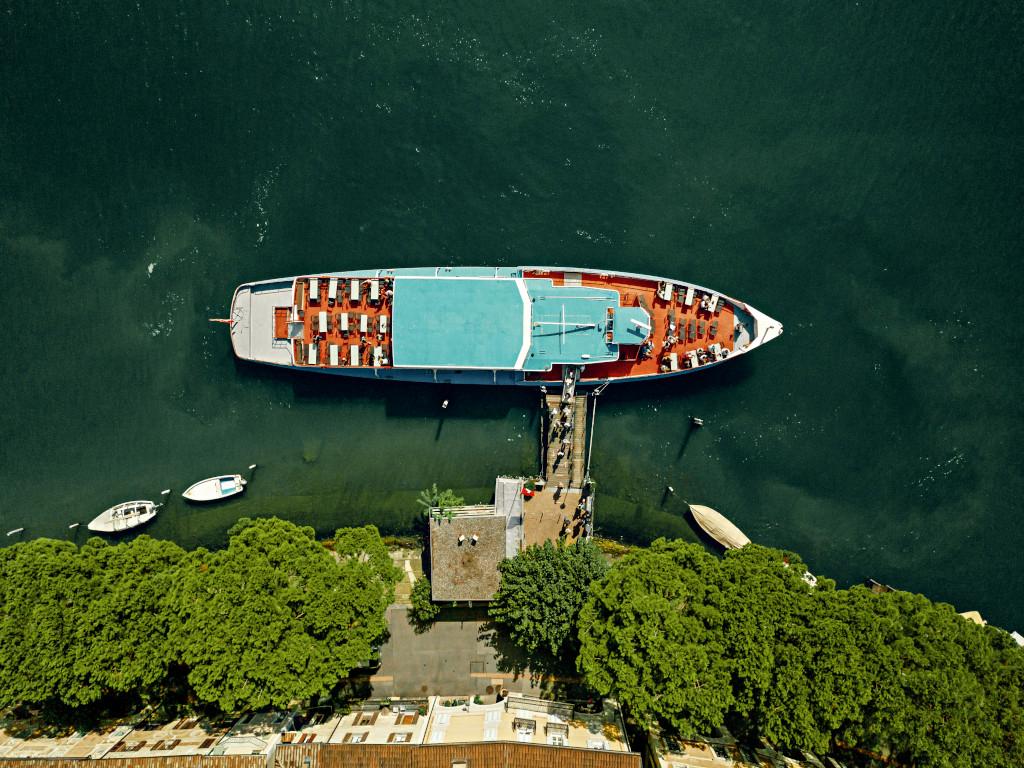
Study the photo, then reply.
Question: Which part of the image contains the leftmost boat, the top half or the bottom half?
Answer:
bottom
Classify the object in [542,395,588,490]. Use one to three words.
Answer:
pier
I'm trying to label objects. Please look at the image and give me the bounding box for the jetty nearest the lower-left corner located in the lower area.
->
[496,476,522,563]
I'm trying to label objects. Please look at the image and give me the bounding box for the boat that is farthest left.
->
[86,502,162,532]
